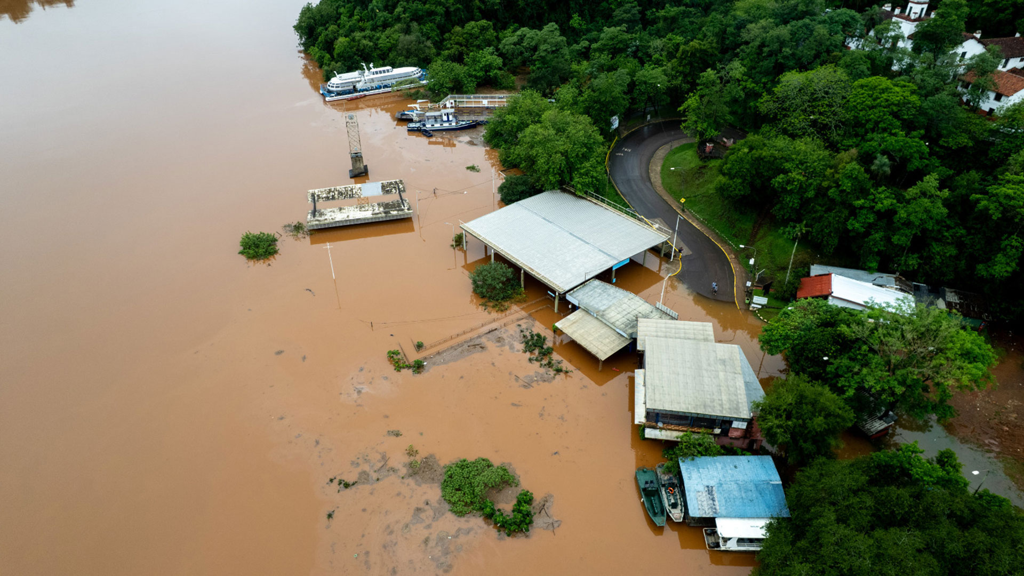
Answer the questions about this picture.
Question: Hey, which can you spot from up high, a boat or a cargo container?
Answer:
boat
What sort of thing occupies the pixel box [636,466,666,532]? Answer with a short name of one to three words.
boat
